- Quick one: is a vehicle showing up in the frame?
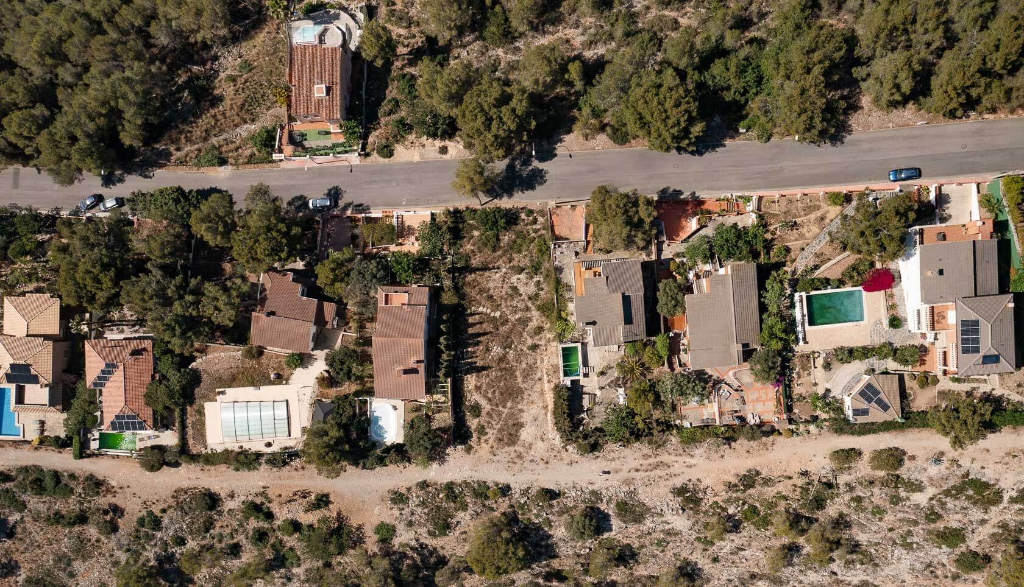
Yes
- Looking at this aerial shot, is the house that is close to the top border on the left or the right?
left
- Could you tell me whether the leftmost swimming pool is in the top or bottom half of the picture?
bottom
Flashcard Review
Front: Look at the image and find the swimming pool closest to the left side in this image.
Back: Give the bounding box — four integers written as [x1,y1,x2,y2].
[0,386,23,437]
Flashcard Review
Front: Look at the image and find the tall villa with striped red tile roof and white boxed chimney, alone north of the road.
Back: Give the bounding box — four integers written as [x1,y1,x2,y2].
[292,23,349,129]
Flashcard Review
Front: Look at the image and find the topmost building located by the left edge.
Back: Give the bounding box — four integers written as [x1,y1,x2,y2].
[3,293,69,335]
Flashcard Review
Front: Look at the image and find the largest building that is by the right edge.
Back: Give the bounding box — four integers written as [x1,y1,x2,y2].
[892,220,1017,377]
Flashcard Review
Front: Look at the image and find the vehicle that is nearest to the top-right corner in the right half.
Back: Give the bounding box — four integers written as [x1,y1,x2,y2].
[887,168,919,183]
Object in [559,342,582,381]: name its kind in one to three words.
swimming pool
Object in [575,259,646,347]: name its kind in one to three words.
house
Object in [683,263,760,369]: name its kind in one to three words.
house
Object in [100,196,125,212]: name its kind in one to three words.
car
